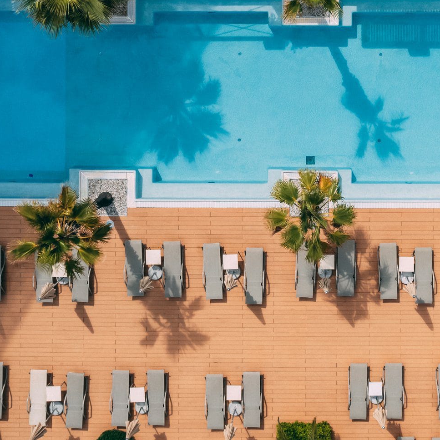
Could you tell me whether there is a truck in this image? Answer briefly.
No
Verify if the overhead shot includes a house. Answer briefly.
No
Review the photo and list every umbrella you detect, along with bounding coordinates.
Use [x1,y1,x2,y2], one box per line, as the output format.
[400,272,419,300]
[222,267,241,293]
[369,394,386,431]
[318,269,334,293]
[40,273,71,301]
[224,401,241,440]
[32,401,63,440]
[126,401,147,440]
[140,266,162,293]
